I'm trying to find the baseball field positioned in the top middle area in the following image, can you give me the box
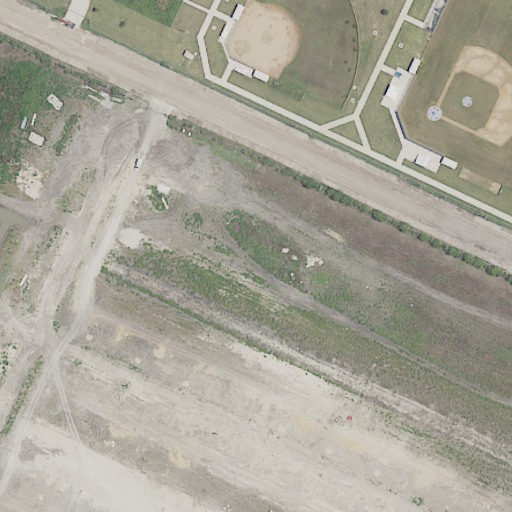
[227,0,358,108]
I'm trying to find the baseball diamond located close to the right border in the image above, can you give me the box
[398,0,512,194]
